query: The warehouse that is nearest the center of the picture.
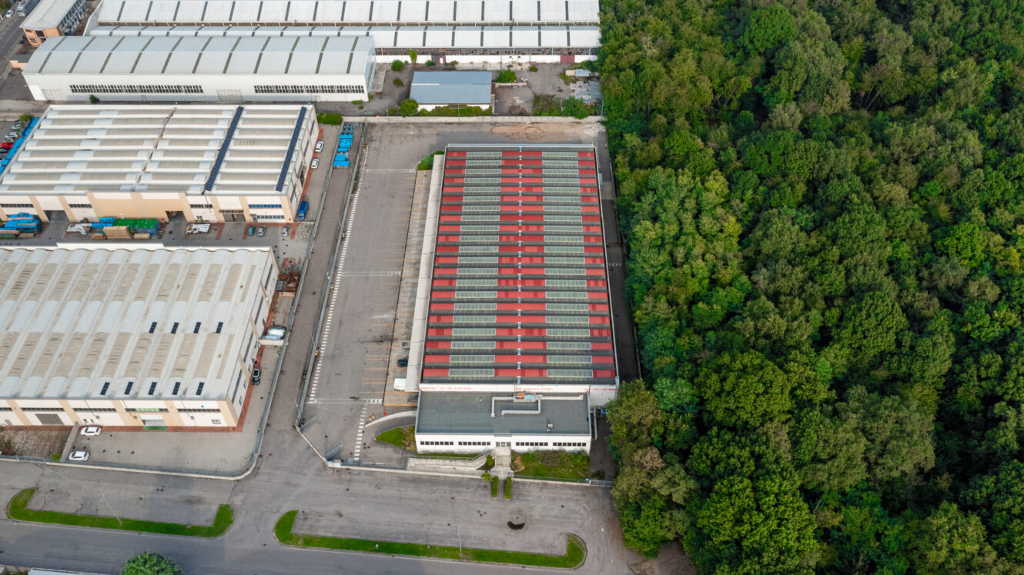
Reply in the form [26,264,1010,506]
[407,146,621,410]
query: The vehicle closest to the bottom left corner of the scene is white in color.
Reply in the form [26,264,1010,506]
[67,449,92,461]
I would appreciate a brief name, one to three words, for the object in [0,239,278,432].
building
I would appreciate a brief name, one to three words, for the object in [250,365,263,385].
vehicle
